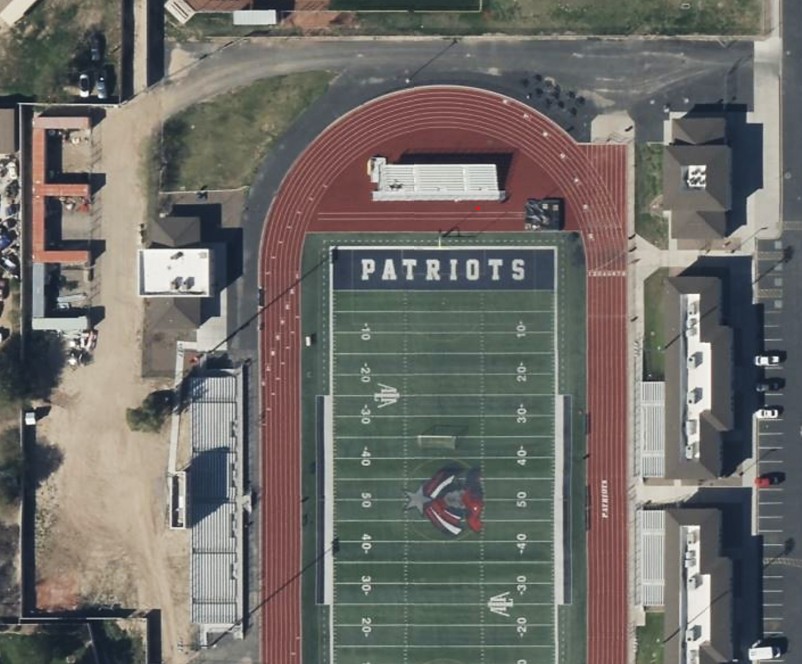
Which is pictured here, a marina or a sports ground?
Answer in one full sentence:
This image shows a sports ground.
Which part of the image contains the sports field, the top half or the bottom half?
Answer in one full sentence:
It is in the bottom half that the sports field appears.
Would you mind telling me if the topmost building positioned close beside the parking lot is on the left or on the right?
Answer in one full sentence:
The topmost building positioned close beside the parking lot sits on the right side.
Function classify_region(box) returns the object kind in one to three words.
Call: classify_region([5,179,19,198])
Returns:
vehicle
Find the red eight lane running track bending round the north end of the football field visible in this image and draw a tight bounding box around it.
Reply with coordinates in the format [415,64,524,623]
[258,86,628,664]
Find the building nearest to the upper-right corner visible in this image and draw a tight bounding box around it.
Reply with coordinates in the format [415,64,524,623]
[663,117,733,239]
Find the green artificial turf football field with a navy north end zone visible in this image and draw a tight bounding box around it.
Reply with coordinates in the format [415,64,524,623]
[301,233,585,664]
